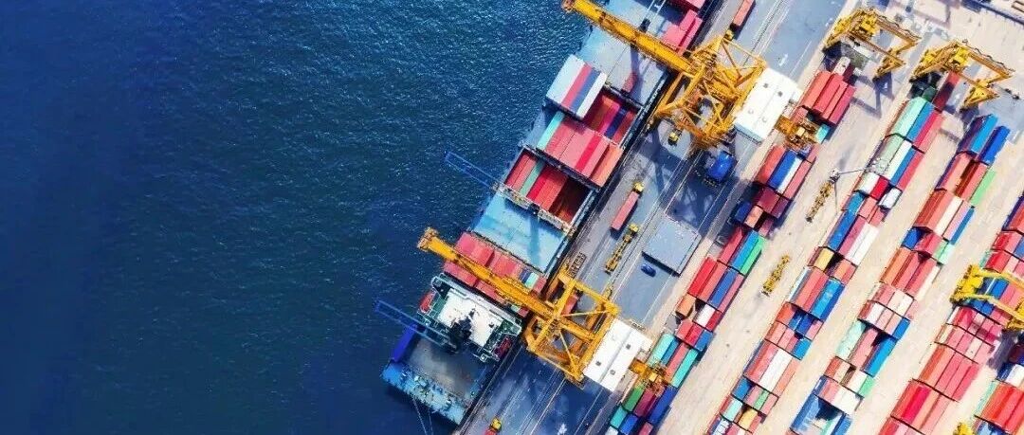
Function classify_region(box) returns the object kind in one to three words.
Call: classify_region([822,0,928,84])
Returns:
container crane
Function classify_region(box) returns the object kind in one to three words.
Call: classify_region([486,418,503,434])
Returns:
vehicle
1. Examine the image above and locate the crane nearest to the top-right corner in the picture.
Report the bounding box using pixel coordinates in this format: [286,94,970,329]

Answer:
[910,33,1023,115]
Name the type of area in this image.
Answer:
port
